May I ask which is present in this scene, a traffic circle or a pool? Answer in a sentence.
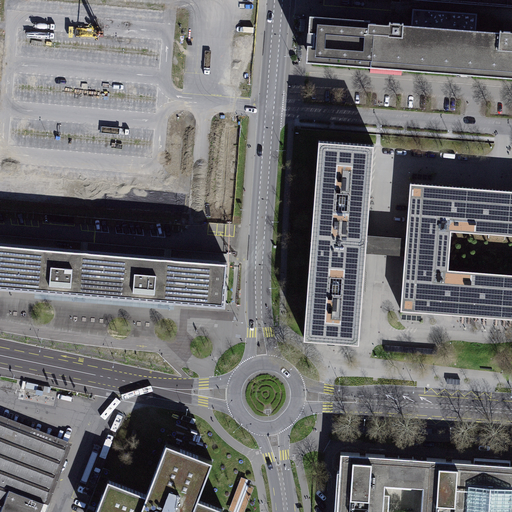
Of the two, only a traffic circle appears.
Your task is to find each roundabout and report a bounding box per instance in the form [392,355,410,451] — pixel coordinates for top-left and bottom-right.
[225,354,306,435]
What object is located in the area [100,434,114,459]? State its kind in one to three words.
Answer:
vehicle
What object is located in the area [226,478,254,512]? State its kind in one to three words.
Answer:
building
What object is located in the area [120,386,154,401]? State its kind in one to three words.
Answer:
vehicle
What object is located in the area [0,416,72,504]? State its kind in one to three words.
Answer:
shed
